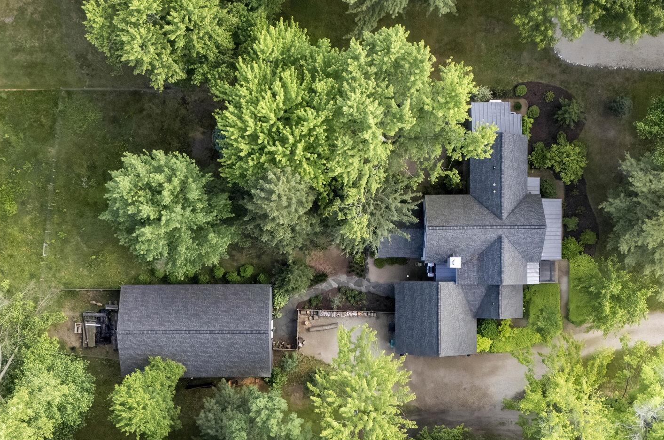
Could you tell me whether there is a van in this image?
No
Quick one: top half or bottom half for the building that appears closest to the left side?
bottom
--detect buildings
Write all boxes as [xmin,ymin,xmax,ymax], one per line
[117,284,273,378]
[378,102,562,358]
